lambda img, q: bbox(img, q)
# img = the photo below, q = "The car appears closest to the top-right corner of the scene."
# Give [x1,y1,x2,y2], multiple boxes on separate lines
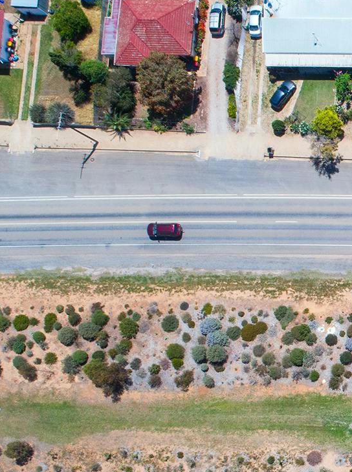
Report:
[247,6,263,41]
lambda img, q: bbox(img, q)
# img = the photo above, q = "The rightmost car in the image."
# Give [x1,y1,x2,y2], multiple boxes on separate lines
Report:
[272,82,299,113]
